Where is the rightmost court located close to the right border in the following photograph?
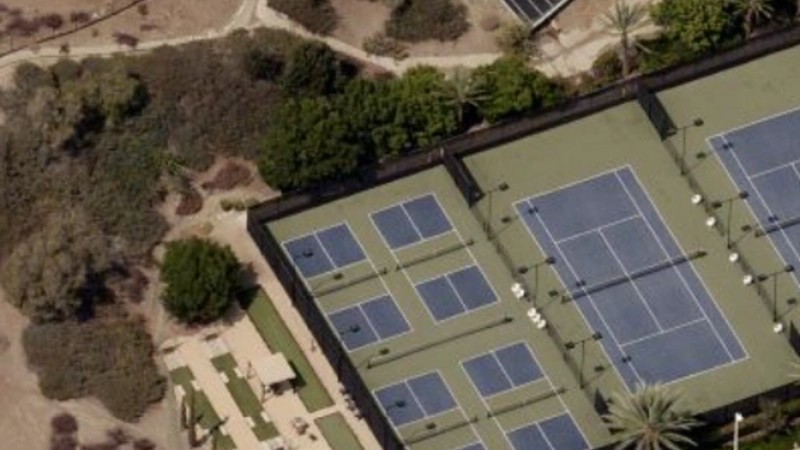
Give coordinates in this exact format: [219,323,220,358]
[708,109,800,282]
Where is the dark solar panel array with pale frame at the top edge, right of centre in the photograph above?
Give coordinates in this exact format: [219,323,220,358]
[494,0,573,34]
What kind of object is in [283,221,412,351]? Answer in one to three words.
sports court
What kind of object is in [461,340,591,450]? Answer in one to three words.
sports court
